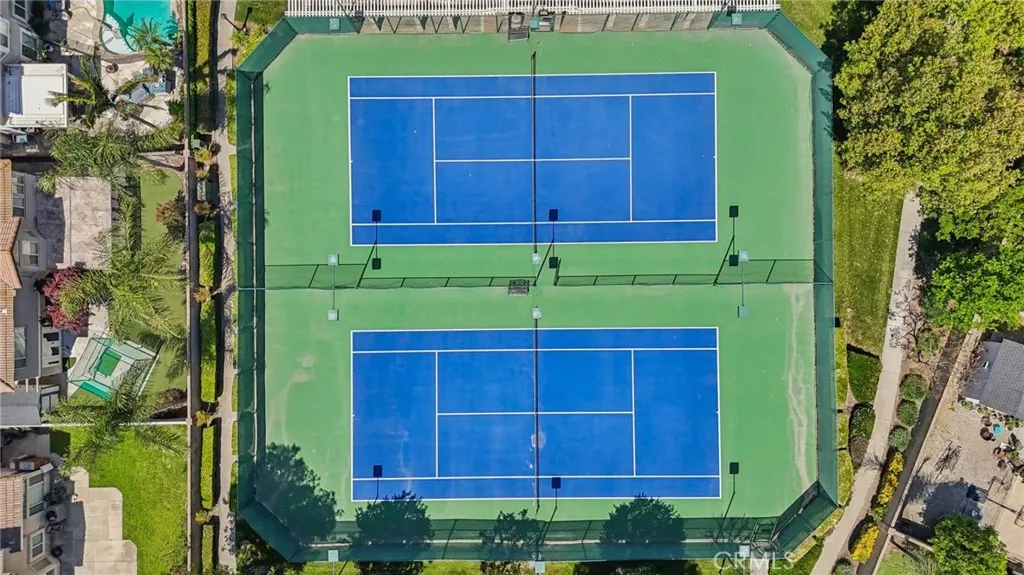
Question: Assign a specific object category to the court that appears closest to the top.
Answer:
tennis court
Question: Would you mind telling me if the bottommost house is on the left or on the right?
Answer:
left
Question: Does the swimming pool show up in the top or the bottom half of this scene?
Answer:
top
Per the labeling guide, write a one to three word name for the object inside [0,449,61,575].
house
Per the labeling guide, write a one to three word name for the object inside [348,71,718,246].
tennis court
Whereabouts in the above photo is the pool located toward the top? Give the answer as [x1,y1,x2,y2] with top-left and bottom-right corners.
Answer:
[95,0,182,59]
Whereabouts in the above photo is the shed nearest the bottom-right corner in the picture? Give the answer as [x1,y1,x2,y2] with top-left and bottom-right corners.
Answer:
[961,339,1024,416]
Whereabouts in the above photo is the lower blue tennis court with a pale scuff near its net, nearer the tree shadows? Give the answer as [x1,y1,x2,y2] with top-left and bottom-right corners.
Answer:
[351,327,722,501]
